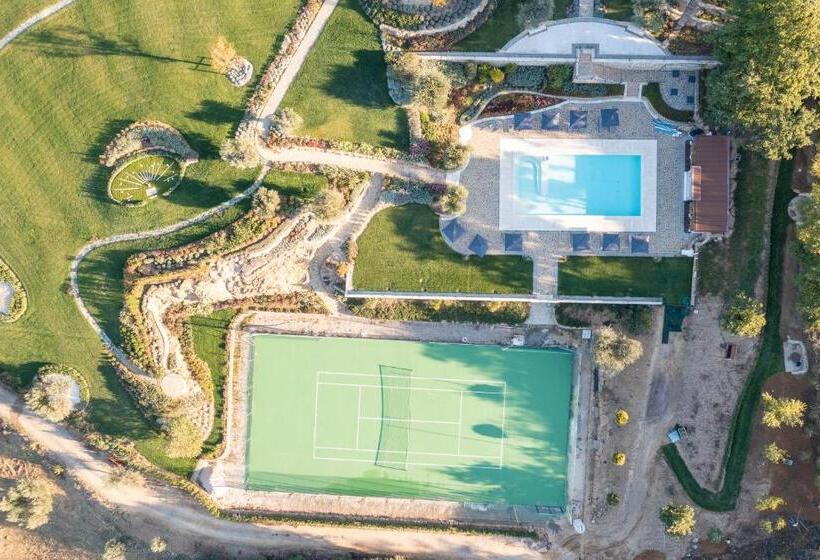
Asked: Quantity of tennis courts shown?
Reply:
1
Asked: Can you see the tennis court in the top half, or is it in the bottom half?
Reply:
bottom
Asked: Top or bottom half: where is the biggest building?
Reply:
top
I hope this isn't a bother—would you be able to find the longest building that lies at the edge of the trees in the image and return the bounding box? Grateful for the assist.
[680,136,732,234]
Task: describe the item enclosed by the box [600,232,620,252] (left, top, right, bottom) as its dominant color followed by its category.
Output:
blue umbrella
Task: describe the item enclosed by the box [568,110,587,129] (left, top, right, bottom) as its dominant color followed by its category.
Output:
blue umbrella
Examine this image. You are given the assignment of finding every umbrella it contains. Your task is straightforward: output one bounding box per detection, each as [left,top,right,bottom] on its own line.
[512,111,531,130]
[540,110,560,130]
[629,233,649,252]
[465,232,490,256]
[600,232,620,252]
[599,108,618,127]
[568,110,587,129]
[503,232,522,252]
[440,217,466,244]
[570,232,589,251]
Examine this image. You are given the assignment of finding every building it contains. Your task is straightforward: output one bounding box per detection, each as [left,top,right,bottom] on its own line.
[670,425,689,445]
[680,136,732,234]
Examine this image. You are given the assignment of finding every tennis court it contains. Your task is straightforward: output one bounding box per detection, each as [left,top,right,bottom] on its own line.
[246,335,574,507]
